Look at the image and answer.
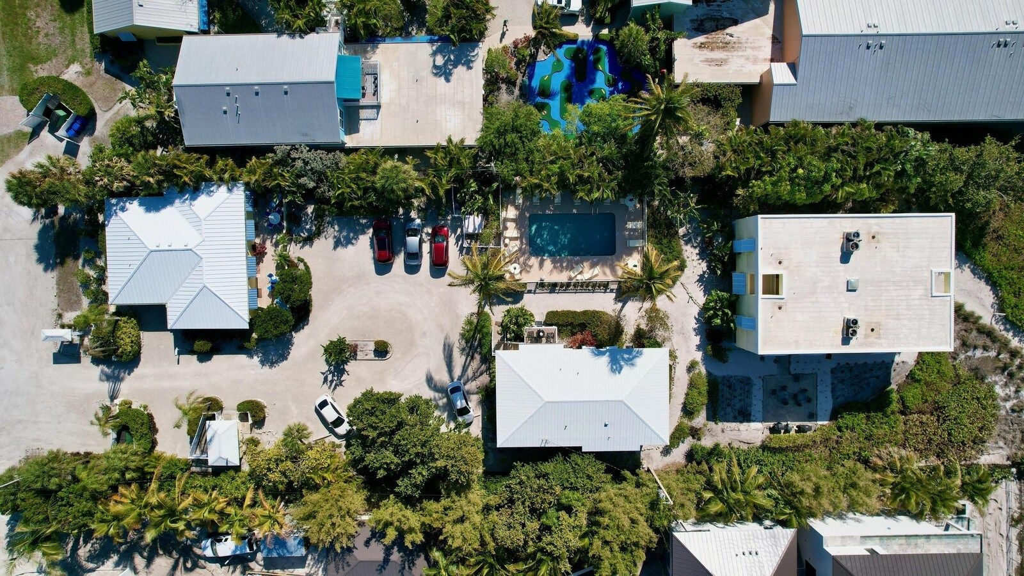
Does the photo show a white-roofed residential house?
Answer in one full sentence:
Yes, this view includes a white-roofed residential house.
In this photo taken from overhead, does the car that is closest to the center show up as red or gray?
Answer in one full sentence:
The car that is closest to the center is red.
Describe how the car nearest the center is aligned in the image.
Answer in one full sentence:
Seen from above, the car nearest the center lies vertically.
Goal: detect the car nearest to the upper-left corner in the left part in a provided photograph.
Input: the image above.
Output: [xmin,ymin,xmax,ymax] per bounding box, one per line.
[370,219,396,267]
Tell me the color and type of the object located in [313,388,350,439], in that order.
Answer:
white car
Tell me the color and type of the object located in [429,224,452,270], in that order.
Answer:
red car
